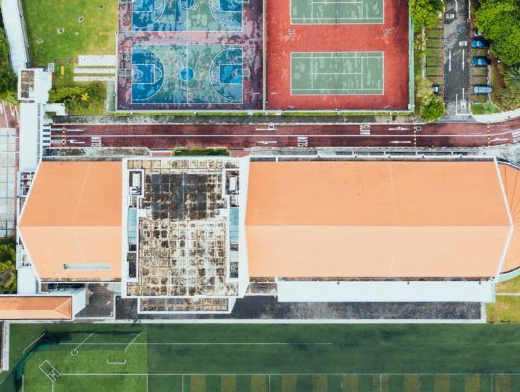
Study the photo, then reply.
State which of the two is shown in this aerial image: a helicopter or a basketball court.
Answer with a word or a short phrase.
basketball court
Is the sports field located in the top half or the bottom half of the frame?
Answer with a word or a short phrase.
bottom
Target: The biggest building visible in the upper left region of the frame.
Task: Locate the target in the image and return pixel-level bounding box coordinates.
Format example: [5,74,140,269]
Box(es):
[18,70,62,102]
